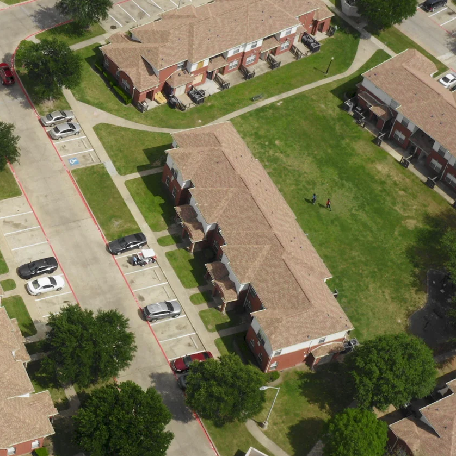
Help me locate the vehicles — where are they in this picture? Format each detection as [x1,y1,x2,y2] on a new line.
[108,234,148,256]
[171,350,212,373]
[17,258,58,281]
[48,121,83,140]
[41,108,75,126]
[418,0,451,12]
[27,275,65,297]
[143,300,182,321]
[137,247,158,265]
[439,72,456,86]
[0,62,16,86]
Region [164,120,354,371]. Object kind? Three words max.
building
